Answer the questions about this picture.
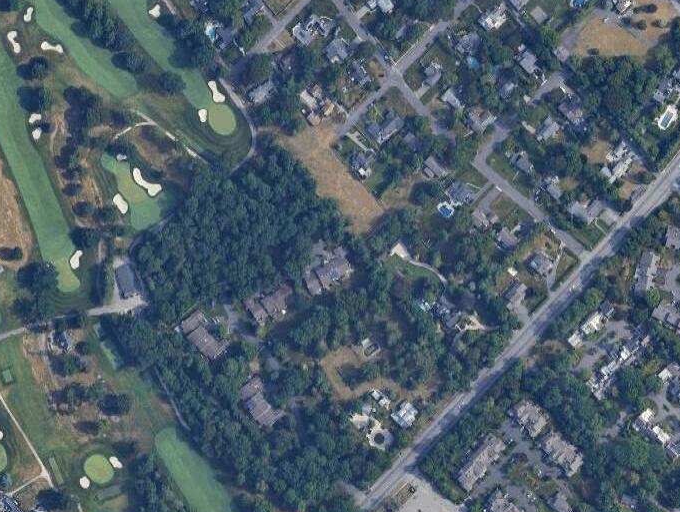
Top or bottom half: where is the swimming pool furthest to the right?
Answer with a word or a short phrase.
top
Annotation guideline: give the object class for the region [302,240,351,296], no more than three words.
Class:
house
